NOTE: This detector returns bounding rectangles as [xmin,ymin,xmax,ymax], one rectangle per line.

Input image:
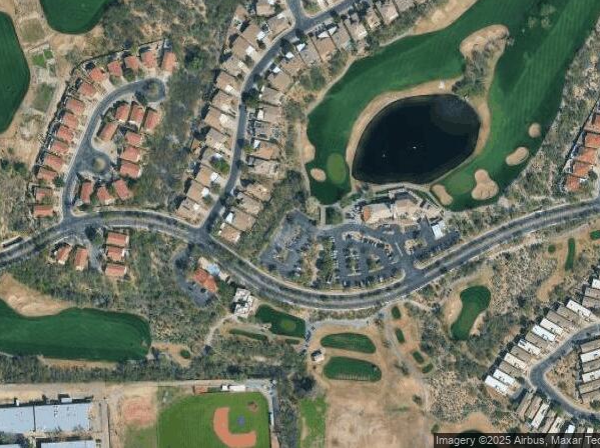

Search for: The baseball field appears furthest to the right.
[158,391,272,448]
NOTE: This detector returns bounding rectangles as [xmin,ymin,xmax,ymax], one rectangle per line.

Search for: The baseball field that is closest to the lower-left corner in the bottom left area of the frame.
[124,398,158,448]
